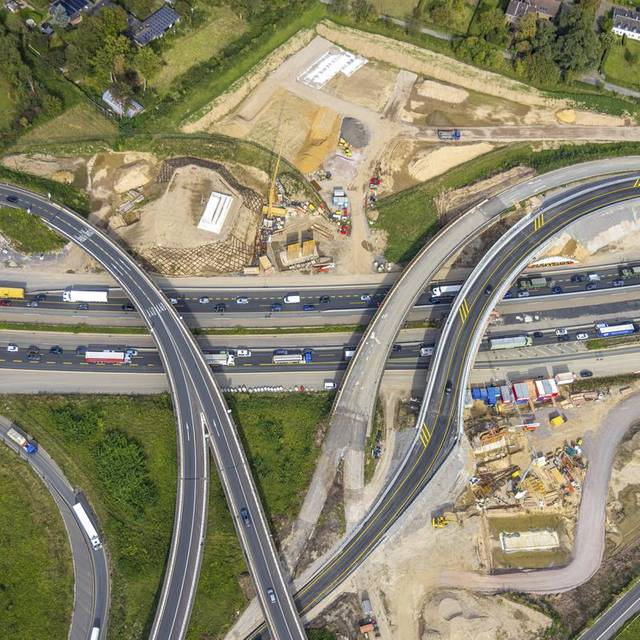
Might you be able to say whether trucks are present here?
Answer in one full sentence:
Yes, the image includes a truck.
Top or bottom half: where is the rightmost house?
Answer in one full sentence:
It is in the top half that the rightmost house appears.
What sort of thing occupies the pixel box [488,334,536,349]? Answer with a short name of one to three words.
vehicle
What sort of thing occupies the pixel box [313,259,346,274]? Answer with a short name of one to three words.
vehicle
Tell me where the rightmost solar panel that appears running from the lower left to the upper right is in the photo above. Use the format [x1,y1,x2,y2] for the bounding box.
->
[137,1,182,41]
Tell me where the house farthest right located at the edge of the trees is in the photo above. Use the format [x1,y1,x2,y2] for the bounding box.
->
[608,9,640,41]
